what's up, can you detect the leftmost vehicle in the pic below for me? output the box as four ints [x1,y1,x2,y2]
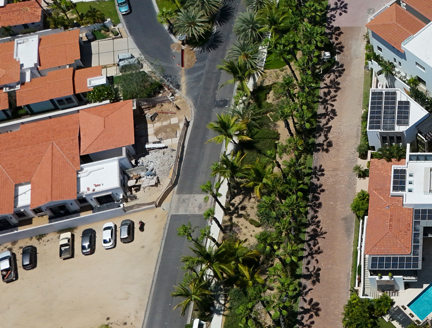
[0,250,20,287]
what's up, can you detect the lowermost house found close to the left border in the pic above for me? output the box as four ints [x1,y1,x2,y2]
[0,99,139,228]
